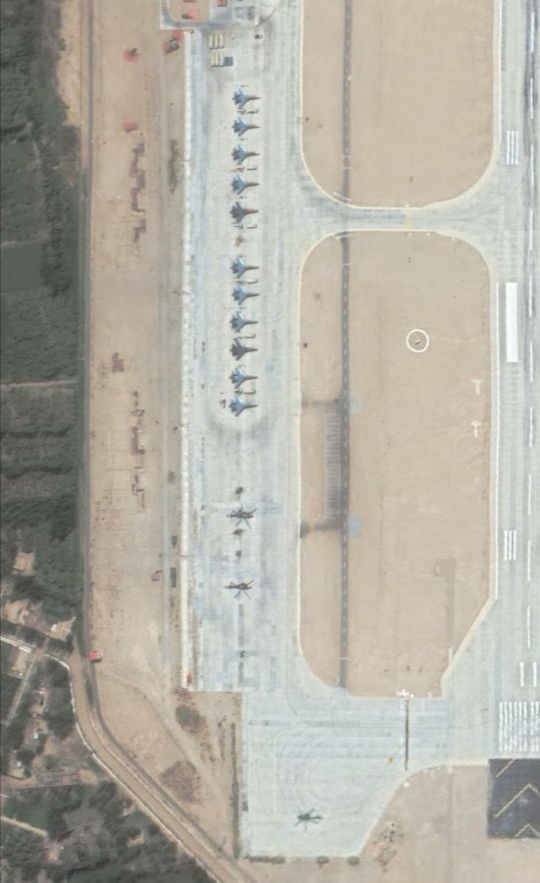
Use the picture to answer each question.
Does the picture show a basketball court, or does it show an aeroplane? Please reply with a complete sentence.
Looking from above, you can make out an aeroplane.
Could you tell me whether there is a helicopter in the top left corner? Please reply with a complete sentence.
No, no helicopter can be made out in the top left corner.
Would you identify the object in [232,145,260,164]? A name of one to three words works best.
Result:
airplane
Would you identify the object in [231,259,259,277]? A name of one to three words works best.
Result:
airplane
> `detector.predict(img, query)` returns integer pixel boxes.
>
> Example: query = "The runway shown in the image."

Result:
[490,0,540,760]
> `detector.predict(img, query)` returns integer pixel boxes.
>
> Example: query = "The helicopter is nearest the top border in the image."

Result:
[227,502,255,526]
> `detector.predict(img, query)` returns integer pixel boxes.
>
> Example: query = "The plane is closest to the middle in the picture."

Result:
[229,396,256,415]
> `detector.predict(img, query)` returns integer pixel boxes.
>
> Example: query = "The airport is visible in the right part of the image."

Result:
[161,0,540,856]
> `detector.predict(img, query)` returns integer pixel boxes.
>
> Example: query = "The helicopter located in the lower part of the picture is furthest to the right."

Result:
[293,807,322,830]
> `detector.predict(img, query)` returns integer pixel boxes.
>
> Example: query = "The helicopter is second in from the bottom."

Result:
[225,574,254,598]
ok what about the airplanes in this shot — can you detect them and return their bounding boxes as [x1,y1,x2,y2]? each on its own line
[232,145,260,164]
[232,175,259,193]
[233,117,261,135]
[229,341,256,359]
[229,396,256,415]
[231,259,259,277]
[233,88,259,107]
[231,203,259,221]
[231,285,258,304]
[229,368,256,386]
[230,313,257,331]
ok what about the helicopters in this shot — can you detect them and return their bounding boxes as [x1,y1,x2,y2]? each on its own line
[293,807,322,830]
[227,502,255,526]
[225,574,254,598]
